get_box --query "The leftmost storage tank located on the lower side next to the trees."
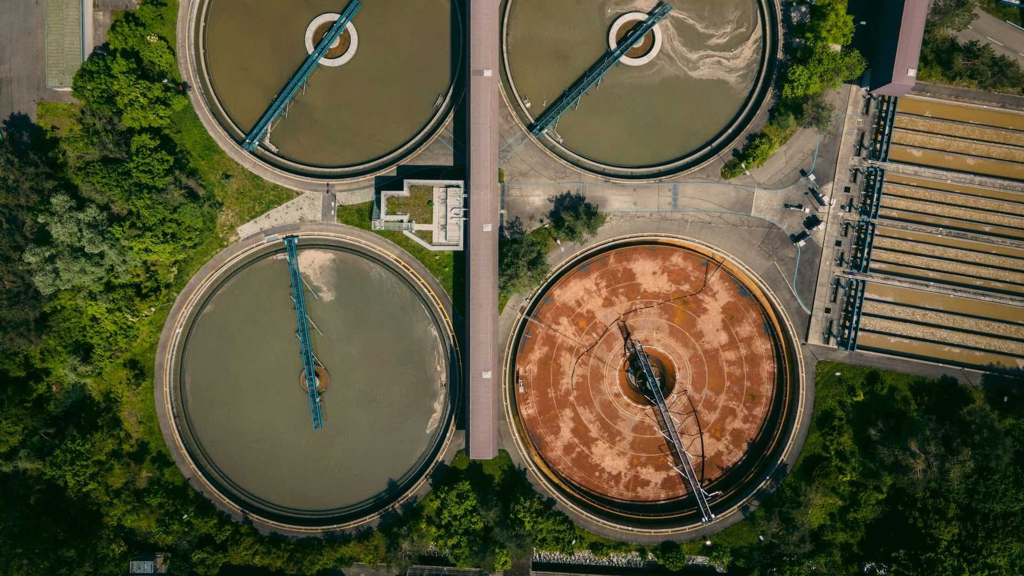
[167,235,460,528]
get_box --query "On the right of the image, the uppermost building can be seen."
[871,0,930,95]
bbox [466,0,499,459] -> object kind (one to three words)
building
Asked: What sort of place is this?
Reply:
industrial area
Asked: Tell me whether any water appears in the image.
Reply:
Yes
